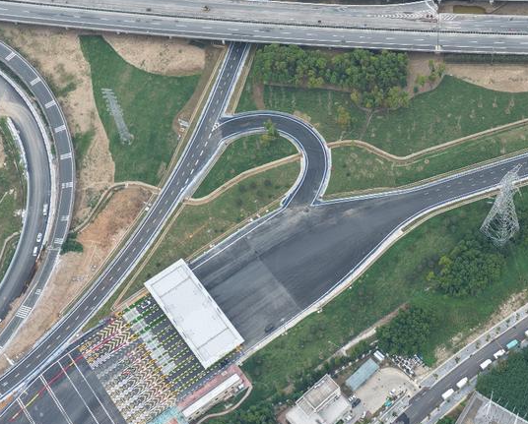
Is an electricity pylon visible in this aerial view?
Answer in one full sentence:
Yes, the frame does contain an electricity pylon.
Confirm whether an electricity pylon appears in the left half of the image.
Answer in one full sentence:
Yes, there is an electricity pylon in the left half of the image.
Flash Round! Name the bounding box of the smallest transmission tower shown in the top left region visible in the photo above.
[106,86,134,142]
